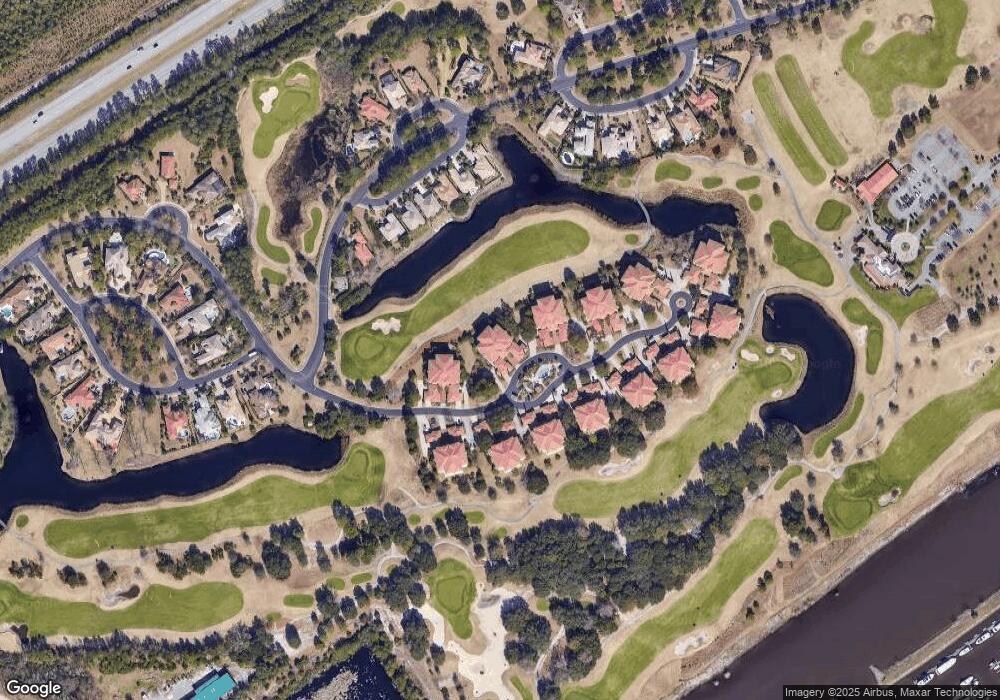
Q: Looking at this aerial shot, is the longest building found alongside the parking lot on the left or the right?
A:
right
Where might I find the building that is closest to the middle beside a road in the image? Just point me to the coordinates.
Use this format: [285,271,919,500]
[477,325,526,376]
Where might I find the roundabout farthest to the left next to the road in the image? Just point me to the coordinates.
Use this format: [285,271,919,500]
[515,360,562,401]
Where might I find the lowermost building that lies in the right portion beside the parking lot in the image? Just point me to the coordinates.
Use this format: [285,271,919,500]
[853,233,913,293]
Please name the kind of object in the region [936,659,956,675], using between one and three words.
boat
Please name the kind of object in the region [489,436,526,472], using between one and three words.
building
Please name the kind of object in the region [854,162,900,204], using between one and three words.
barn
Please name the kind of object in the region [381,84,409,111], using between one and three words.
house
